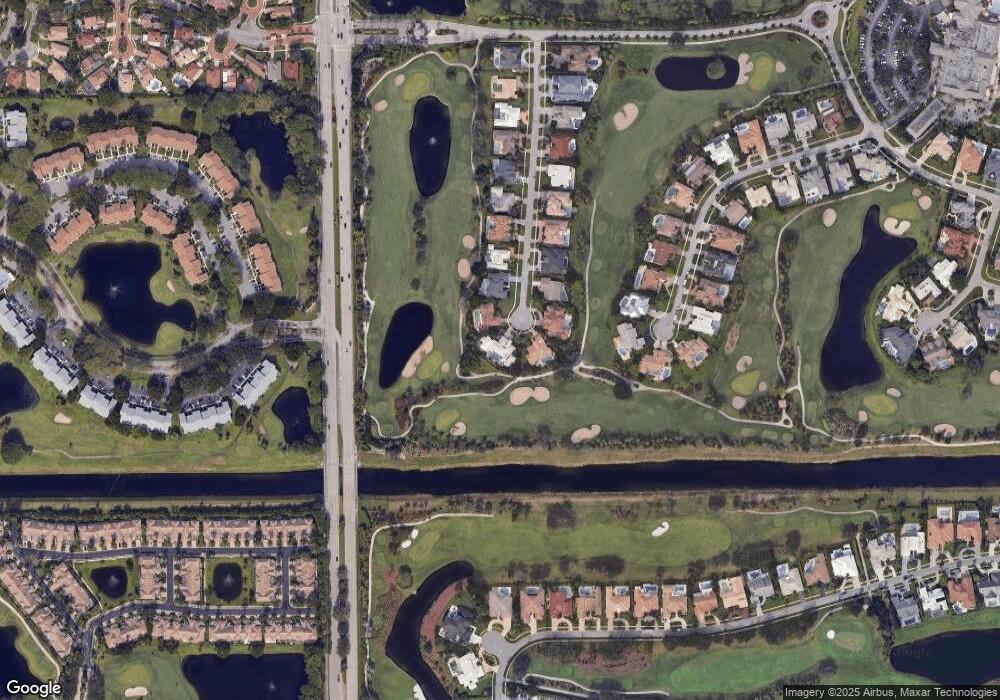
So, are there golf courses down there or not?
Yes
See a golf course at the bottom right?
Yes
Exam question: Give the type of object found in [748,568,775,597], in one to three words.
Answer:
house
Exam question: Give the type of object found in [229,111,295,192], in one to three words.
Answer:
pond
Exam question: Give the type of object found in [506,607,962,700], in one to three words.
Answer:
golf course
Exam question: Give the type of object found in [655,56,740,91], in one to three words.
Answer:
pond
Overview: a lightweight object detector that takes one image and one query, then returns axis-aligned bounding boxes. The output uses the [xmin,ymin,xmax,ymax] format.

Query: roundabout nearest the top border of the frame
[802,1,838,37]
